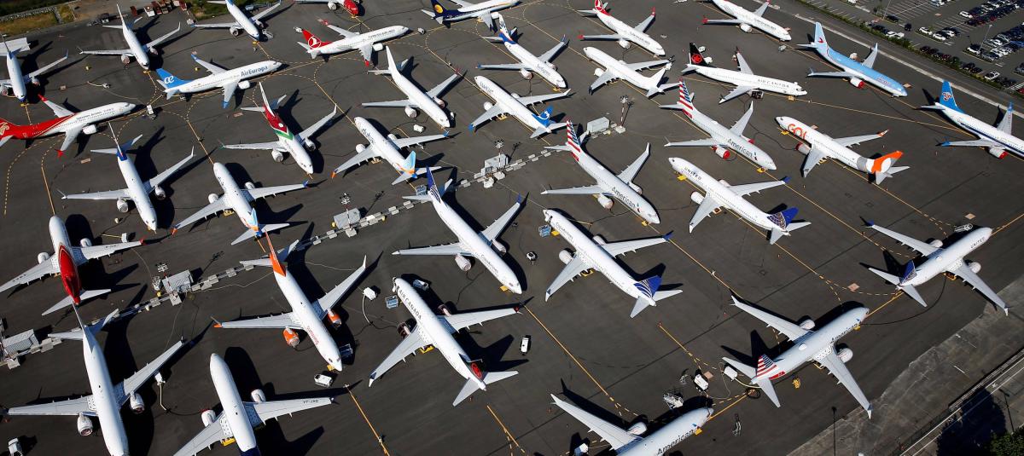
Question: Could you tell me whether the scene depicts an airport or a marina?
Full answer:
The picture captures an airport.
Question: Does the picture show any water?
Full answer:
No, there is no water in the image.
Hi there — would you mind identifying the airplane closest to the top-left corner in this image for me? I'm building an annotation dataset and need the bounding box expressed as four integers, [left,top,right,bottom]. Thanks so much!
[0,33,74,108]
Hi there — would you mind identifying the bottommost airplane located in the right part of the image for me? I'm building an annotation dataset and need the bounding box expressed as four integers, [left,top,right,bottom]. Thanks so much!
[553,392,712,456]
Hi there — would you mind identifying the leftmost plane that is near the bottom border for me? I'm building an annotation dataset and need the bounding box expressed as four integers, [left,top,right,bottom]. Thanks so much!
[0,302,191,456]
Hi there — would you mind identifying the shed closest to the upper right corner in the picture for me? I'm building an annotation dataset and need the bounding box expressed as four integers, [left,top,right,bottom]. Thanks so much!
[584,116,611,138]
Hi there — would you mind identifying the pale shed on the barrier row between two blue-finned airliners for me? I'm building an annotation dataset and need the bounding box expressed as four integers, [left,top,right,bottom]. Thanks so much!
[478,150,511,175]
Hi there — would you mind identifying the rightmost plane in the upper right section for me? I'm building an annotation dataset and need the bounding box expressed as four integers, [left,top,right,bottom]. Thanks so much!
[920,83,1024,164]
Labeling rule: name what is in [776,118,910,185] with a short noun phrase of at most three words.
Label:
airplane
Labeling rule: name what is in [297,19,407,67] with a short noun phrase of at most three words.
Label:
airplane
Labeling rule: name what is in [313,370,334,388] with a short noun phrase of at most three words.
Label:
vehicle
